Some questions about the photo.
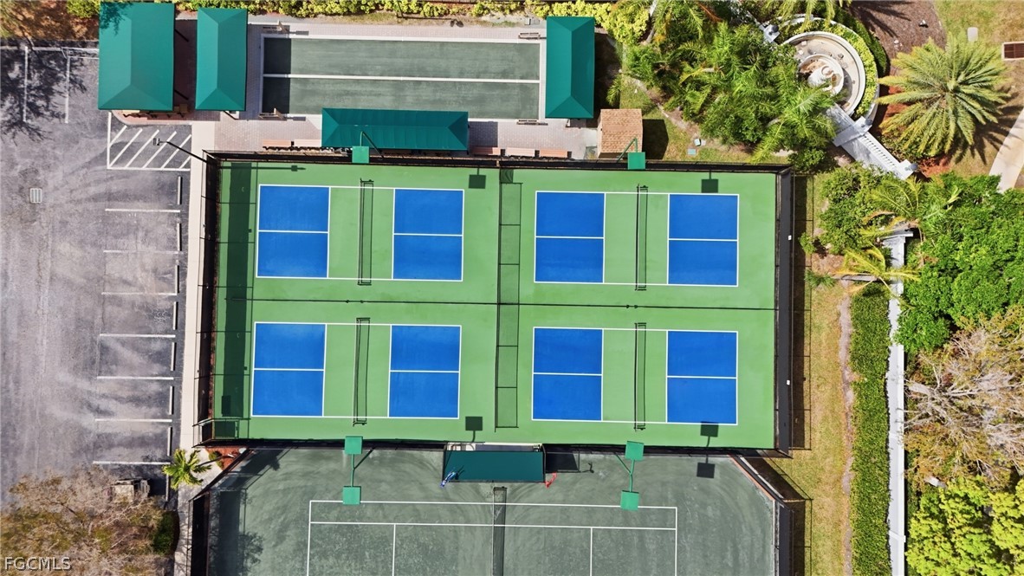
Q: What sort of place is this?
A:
sports ground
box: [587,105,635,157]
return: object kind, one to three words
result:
shed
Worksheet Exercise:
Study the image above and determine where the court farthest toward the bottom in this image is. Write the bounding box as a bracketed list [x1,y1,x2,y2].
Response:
[208,449,775,576]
